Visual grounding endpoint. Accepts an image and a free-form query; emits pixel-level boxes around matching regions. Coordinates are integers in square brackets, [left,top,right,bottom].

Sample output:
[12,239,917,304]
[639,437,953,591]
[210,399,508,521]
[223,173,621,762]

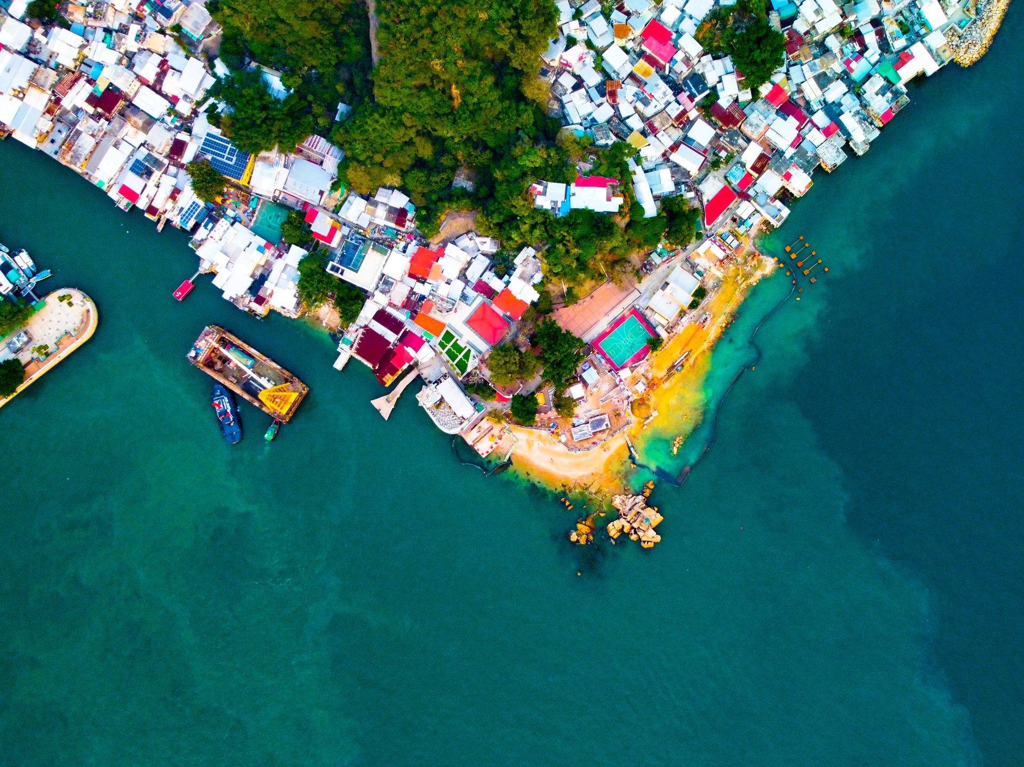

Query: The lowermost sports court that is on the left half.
[336,239,372,272]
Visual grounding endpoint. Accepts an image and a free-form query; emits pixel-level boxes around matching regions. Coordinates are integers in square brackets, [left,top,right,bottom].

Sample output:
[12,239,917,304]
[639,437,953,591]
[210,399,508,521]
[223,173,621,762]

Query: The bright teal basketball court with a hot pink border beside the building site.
[591,308,655,372]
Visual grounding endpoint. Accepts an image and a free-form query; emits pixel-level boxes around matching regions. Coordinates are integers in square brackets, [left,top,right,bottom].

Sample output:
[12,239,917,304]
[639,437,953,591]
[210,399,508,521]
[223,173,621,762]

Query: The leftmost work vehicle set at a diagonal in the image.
[640,376,661,398]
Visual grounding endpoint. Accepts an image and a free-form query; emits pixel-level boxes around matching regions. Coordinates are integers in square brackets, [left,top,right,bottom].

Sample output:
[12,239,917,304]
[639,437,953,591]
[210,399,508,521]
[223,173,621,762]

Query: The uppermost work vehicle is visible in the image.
[749,247,762,267]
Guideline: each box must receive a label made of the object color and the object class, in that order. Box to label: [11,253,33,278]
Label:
white boat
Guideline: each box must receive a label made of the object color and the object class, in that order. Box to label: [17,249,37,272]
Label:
white boat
